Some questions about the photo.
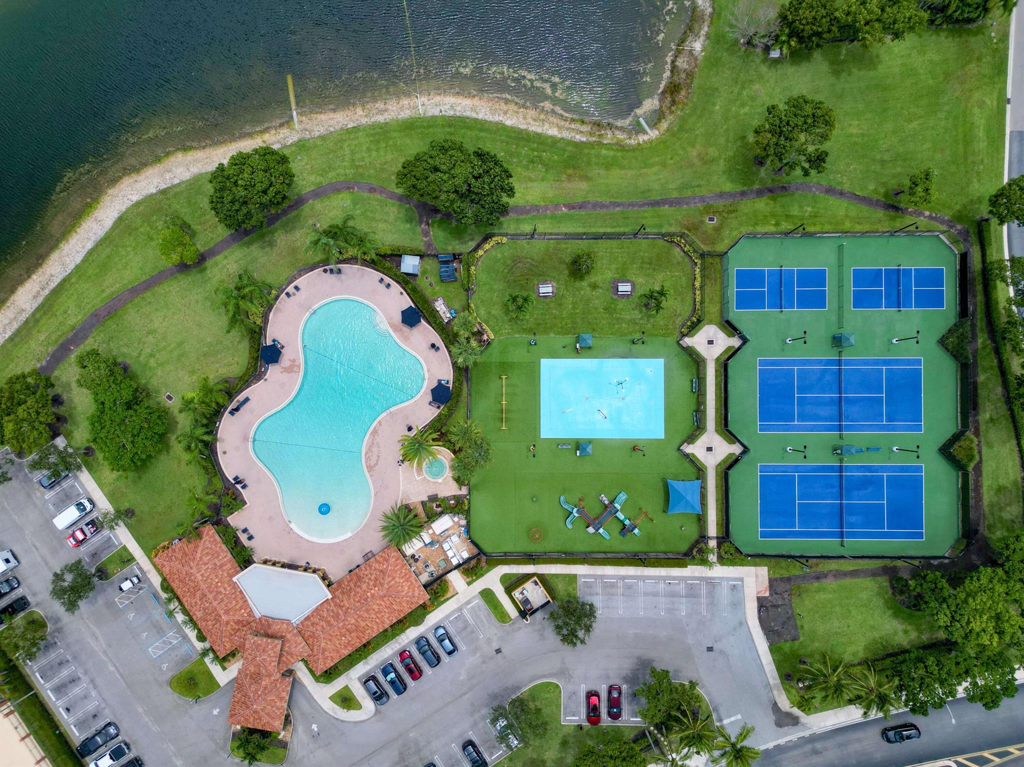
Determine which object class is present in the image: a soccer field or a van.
van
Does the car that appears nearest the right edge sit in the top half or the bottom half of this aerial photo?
bottom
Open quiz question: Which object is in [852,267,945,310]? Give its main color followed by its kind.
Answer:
blue sports court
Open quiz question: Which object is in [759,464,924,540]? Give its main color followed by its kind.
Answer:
blue tennis court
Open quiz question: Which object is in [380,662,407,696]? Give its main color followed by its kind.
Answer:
blue car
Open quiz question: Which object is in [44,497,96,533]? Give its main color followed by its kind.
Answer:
white van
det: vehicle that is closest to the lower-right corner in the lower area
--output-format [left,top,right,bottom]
[882,723,920,744]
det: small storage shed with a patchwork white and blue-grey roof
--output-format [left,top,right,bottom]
[398,254,418,273]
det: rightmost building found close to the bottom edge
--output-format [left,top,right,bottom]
[153,522,429,733]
